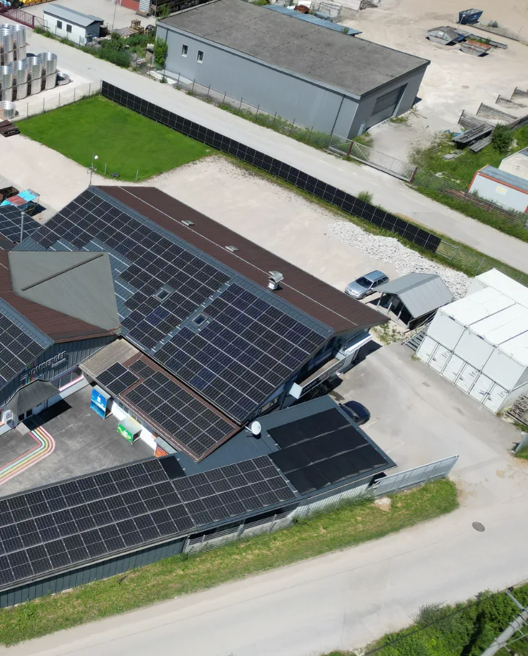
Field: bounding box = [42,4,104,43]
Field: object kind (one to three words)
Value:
shed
